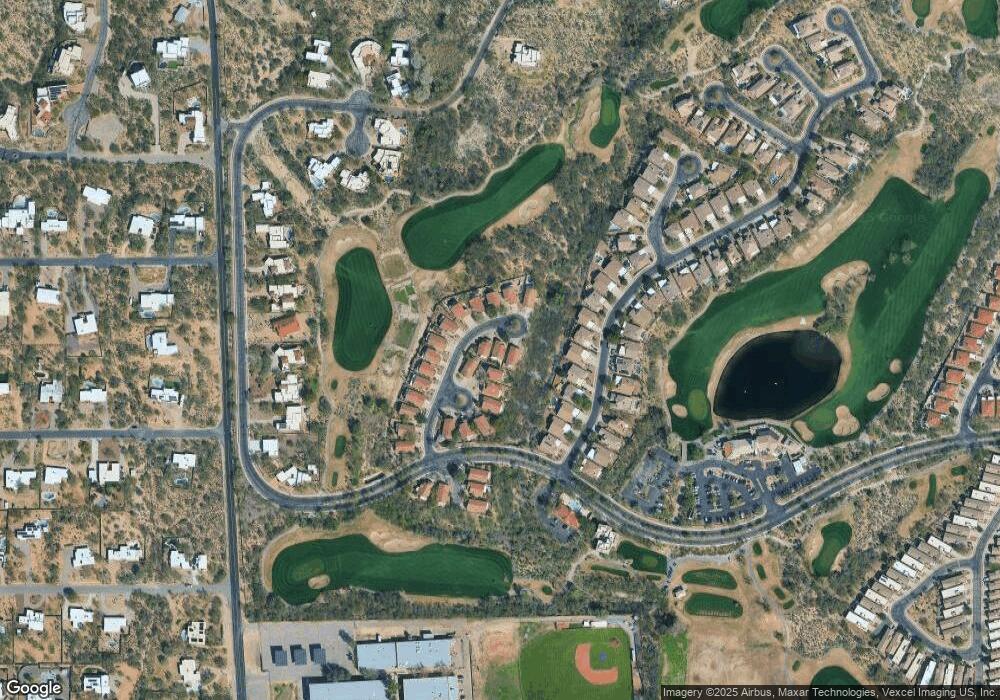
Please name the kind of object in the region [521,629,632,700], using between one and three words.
baseball field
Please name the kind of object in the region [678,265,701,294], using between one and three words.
house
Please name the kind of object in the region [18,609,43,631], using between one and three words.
house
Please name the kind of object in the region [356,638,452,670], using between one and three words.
building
